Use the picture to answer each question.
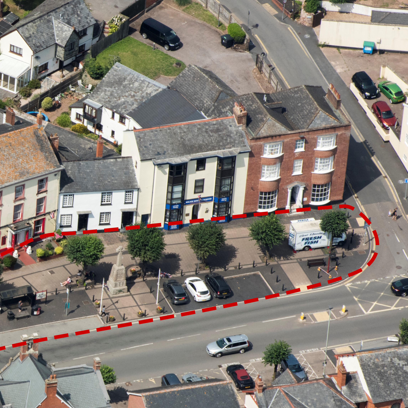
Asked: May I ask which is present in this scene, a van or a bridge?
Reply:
van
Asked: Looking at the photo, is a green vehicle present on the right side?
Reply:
Yes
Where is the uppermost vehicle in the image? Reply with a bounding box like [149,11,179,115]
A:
[139,16,181,50]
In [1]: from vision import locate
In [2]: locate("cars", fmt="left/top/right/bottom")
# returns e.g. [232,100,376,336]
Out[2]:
[176,369,216,386]
[184,276,210,302]
[160,277,187,305]
[283,355,310,380]
[351,69,380,98]
[225,364,255,390]
[202,272,232,299]
[391,279,408,298]
[370,102,395,128]
[206,335,251,359]
[376,81,407,104]
[159,368,184,390]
